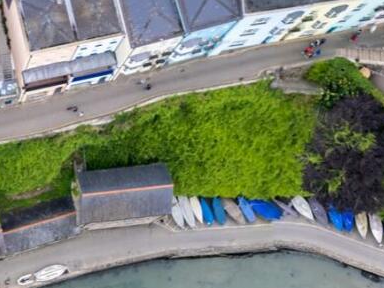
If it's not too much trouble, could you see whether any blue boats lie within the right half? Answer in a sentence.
Yes, within the right half there is a blue boat.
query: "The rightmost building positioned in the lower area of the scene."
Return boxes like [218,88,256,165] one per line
[79,162,178,233]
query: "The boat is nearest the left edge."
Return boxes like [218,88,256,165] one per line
[18,273,35,285]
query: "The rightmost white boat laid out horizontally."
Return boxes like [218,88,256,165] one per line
[34,262,70,281]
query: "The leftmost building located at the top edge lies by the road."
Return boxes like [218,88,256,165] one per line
[8,0,77,99]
